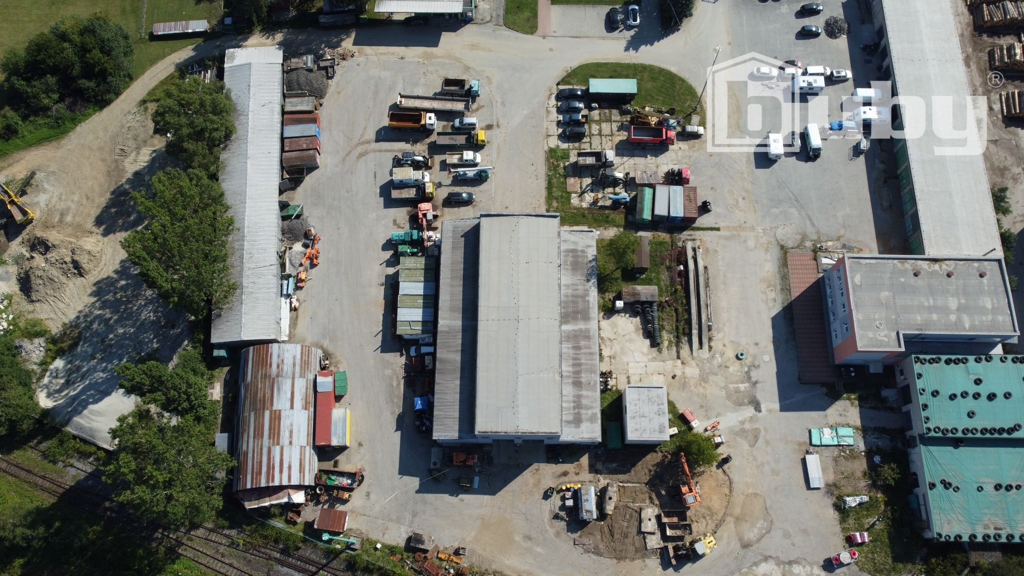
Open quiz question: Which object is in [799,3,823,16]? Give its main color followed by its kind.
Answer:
black vehicle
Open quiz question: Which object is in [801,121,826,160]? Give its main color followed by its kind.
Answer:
white vehicle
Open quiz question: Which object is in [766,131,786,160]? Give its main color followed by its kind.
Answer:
white camper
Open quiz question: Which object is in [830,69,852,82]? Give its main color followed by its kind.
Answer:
white vehicle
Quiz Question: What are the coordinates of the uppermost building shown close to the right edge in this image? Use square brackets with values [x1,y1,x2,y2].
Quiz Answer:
[868,0,1004,256]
